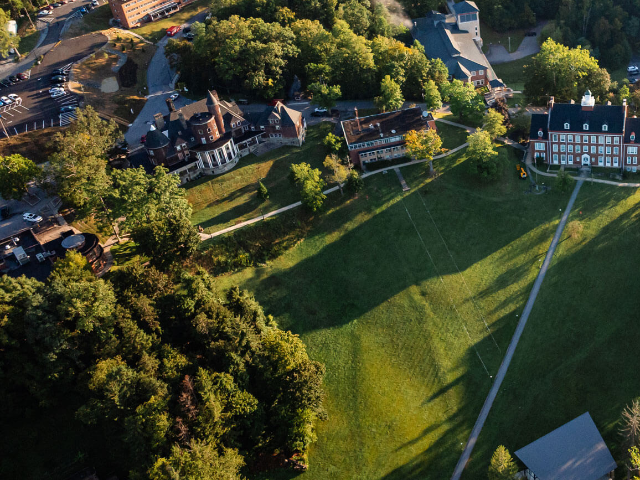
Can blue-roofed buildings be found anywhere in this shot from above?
Yes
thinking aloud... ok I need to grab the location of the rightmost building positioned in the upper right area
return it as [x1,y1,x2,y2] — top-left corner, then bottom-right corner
[531,86,640,174]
